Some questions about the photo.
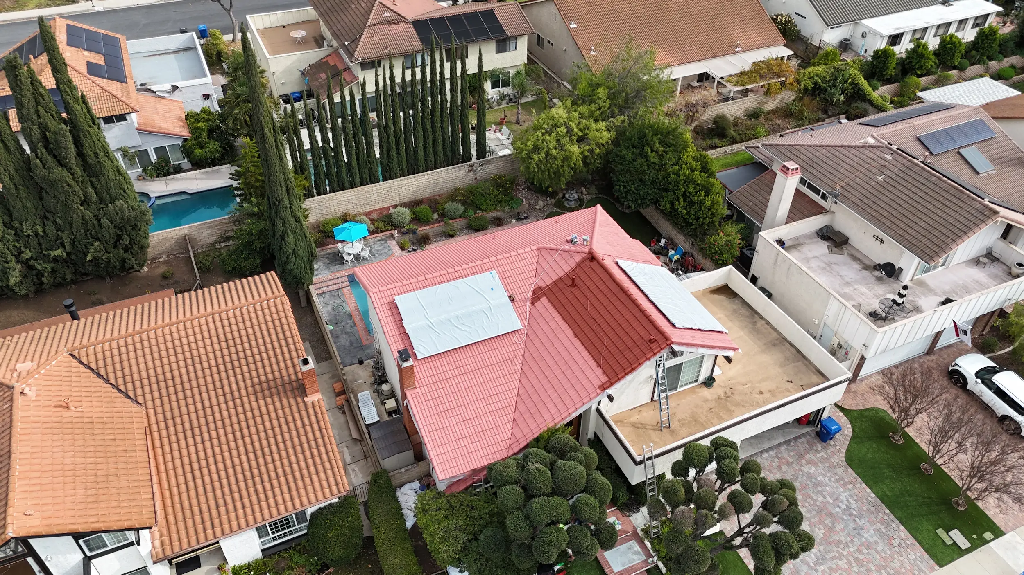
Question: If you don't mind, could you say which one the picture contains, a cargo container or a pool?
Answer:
pool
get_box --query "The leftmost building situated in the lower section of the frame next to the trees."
[0,269,349,575]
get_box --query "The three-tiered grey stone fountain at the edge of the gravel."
[559,191,582,211]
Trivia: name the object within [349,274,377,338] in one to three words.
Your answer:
swimming pool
